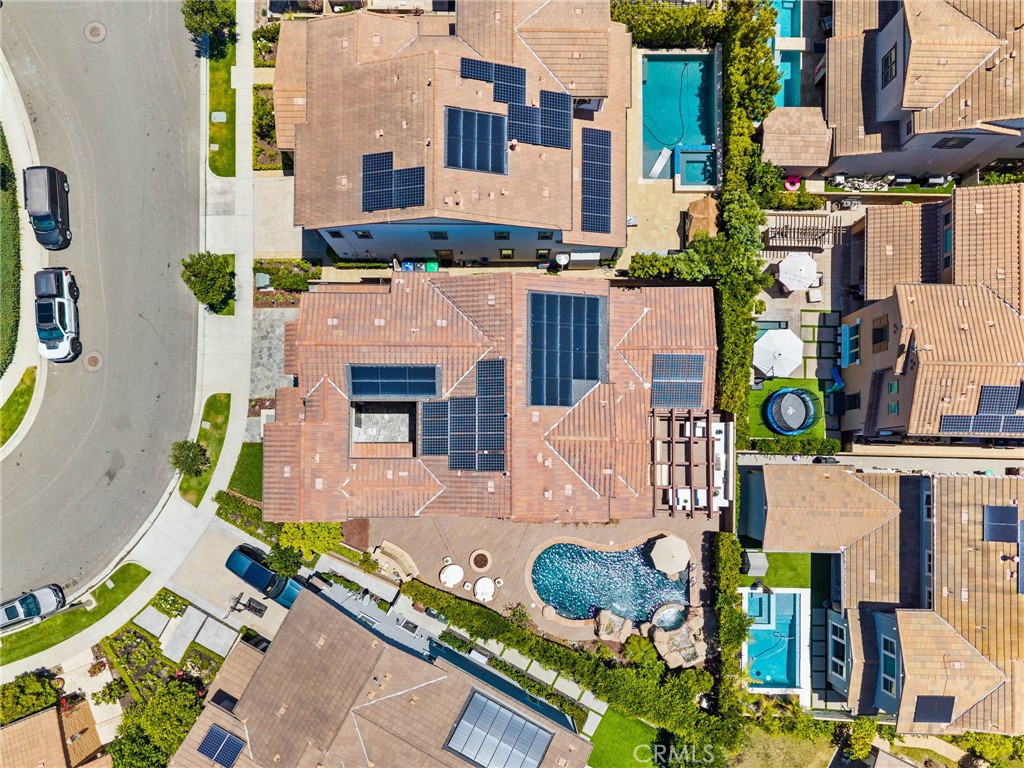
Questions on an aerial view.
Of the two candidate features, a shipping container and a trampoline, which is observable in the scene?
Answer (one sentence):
I can see a trampoline in this picture.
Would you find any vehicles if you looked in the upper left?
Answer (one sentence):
Yes, you'll find a vehicle in the upper left.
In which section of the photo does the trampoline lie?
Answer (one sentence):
You can find the trampoline in the right area of the picture.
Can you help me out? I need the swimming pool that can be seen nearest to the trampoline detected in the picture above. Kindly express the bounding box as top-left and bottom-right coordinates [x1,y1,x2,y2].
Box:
[756,319,790,338]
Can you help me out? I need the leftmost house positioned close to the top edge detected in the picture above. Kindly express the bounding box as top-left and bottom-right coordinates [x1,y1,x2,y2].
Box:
[273,0,632,259]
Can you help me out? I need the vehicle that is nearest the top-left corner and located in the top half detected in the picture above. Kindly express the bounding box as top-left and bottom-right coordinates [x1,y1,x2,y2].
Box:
[22,167,72,249]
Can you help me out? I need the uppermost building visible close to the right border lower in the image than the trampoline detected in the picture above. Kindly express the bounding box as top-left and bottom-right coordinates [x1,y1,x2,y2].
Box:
[749,466,1024,737]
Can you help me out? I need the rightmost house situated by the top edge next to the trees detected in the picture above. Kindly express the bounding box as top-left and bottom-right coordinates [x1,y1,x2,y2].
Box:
[824,0,1024,176]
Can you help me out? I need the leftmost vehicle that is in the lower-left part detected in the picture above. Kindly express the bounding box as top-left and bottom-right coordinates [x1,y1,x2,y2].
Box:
[0,581,69,634]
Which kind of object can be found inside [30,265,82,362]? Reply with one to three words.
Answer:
truck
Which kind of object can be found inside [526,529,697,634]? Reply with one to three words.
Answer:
swimming pool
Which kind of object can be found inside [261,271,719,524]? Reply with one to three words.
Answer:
house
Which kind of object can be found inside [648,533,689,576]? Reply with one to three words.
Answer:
umbrella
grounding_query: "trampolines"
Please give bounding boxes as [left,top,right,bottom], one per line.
[756,385,819,439]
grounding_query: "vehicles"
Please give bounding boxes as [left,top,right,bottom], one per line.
[30,265,82,362]
[22,167,72,249]
[271,0,303,13]
[220,548,312,616]
[0,581,69,634]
